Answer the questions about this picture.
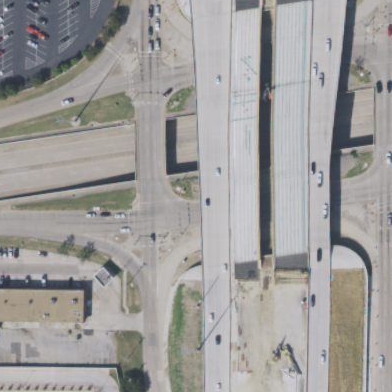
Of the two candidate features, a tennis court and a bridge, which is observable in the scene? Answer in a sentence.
Looking from above, you can make out a bridge.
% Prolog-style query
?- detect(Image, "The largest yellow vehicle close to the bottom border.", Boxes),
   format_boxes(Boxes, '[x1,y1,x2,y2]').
[282,347,298,375]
